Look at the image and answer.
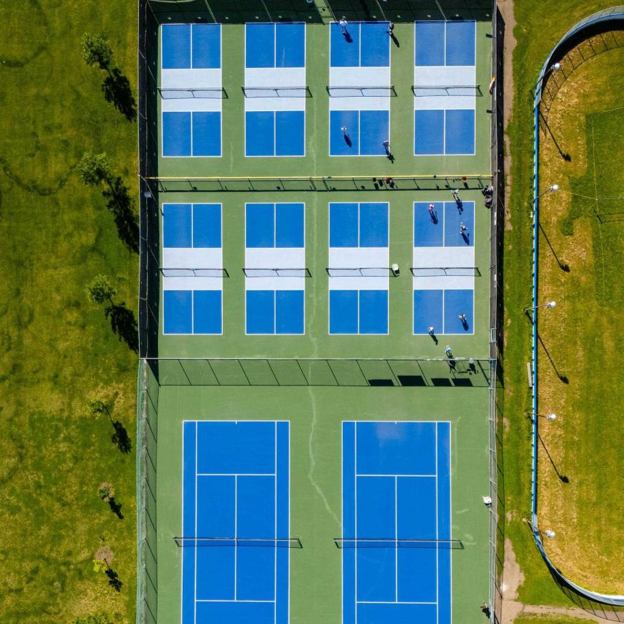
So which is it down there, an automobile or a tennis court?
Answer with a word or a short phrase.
tennis court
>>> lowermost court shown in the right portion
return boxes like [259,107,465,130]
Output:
[342,422,451,624]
